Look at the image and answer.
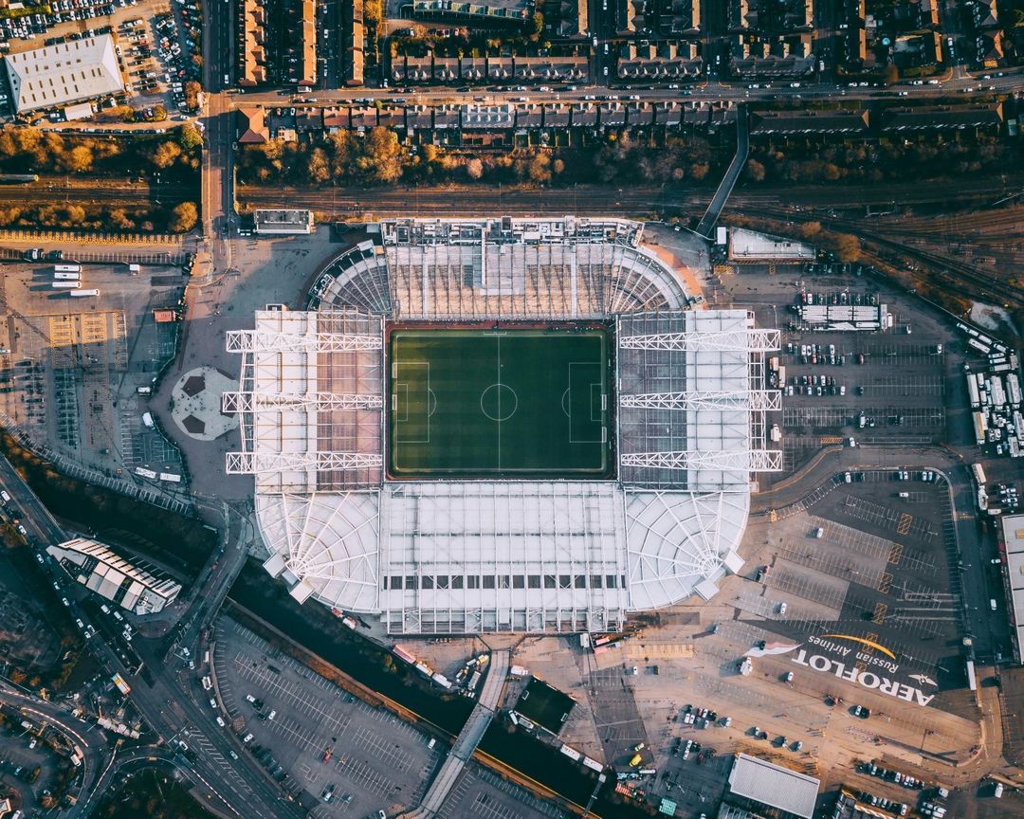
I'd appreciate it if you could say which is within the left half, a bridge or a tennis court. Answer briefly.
bridge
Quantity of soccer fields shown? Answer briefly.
2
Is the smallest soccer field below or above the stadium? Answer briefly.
below it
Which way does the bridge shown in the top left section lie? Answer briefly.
from top to bottom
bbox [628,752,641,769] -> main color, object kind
yellow vehicle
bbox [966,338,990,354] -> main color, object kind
white vehicle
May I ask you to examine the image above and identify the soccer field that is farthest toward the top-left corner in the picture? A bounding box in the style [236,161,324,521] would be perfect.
[387,320,616,475]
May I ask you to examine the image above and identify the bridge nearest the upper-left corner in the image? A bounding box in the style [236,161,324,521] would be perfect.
[201,124,237,231]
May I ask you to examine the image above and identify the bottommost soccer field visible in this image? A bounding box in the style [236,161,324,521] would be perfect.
[514,676,577,735]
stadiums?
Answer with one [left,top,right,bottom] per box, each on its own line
[222,216,780,634]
